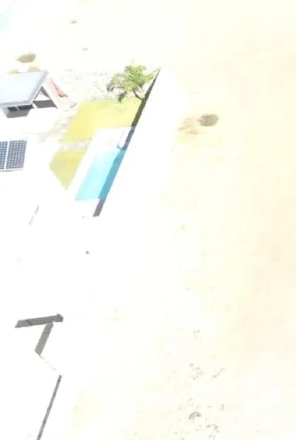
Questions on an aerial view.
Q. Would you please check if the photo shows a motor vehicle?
No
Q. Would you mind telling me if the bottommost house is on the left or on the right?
left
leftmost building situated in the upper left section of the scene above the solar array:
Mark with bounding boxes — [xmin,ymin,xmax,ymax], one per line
[0,54,52,117]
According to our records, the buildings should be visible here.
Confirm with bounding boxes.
[0,131,85,332]
[0,54,52,117]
